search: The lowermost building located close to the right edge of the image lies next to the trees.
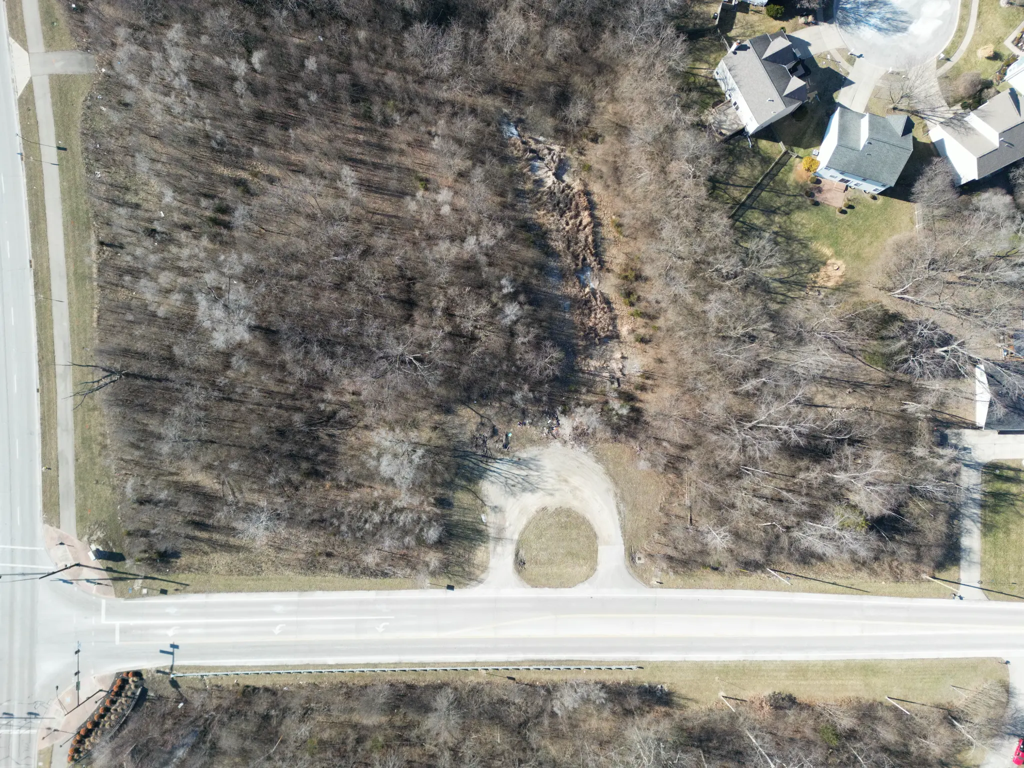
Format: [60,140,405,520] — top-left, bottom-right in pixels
[975,363,1024,430]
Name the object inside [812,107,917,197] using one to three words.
house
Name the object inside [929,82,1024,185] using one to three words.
house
